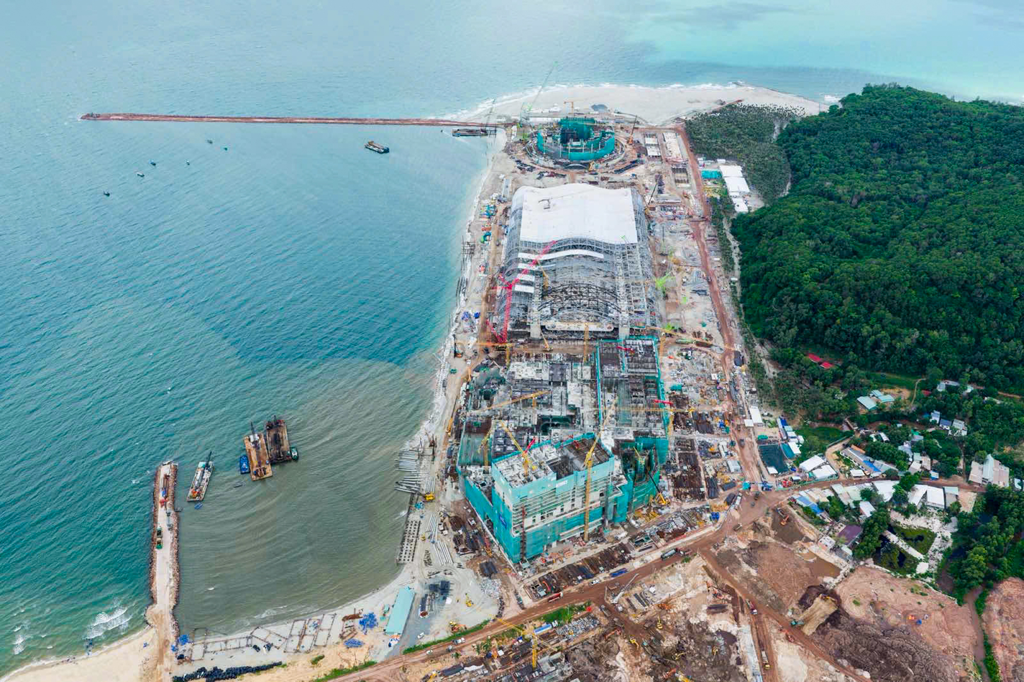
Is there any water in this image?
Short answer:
Yes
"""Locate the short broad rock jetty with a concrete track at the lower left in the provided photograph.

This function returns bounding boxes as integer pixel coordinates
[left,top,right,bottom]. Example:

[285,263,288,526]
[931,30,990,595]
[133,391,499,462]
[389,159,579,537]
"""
[140,459,184,645]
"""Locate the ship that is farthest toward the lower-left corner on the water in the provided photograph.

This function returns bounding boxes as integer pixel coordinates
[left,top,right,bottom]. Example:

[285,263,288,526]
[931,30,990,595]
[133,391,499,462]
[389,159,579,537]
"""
[184,445,216,499]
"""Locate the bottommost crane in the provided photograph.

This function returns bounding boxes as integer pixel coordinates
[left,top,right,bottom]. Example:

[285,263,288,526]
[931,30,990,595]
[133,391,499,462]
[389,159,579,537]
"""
[495,616,561,670]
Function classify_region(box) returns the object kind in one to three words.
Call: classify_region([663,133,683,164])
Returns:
shed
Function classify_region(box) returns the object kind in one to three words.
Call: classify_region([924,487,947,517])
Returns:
building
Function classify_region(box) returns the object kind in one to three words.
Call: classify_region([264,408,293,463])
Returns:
ship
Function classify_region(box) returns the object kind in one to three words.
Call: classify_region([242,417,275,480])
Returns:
ship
